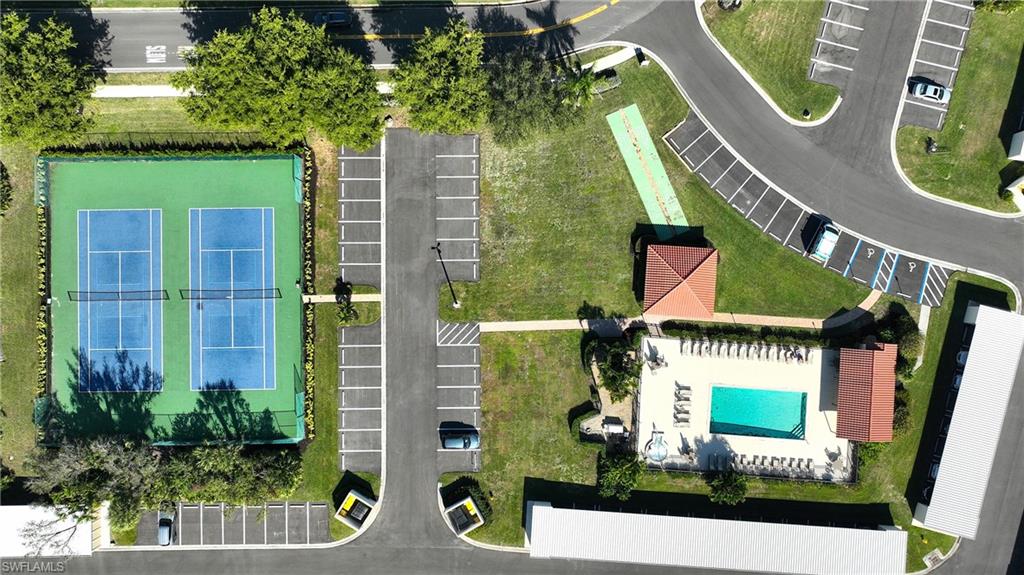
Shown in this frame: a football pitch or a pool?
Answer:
pool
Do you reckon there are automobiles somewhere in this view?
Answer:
Yes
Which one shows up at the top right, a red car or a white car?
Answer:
white car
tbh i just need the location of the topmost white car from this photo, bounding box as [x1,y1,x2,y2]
[911,82,951,103]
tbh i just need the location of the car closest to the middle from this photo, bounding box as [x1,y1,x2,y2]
[443,433,479,451]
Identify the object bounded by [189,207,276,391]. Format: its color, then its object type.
blue tennis court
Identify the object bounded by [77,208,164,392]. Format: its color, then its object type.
blue tennis court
